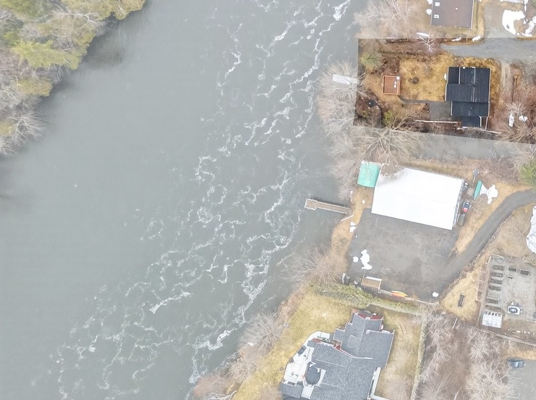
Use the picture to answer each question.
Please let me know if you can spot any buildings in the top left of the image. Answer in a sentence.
No, looking in the top left of the image, there is no building.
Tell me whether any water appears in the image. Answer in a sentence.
Yes, water can be seen from above here.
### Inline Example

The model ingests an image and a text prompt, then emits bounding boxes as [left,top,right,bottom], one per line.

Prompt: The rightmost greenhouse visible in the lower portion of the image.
[482,310,502,328]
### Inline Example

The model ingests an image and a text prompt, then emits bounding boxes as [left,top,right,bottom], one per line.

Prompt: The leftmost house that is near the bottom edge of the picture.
[280,309,397,400]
